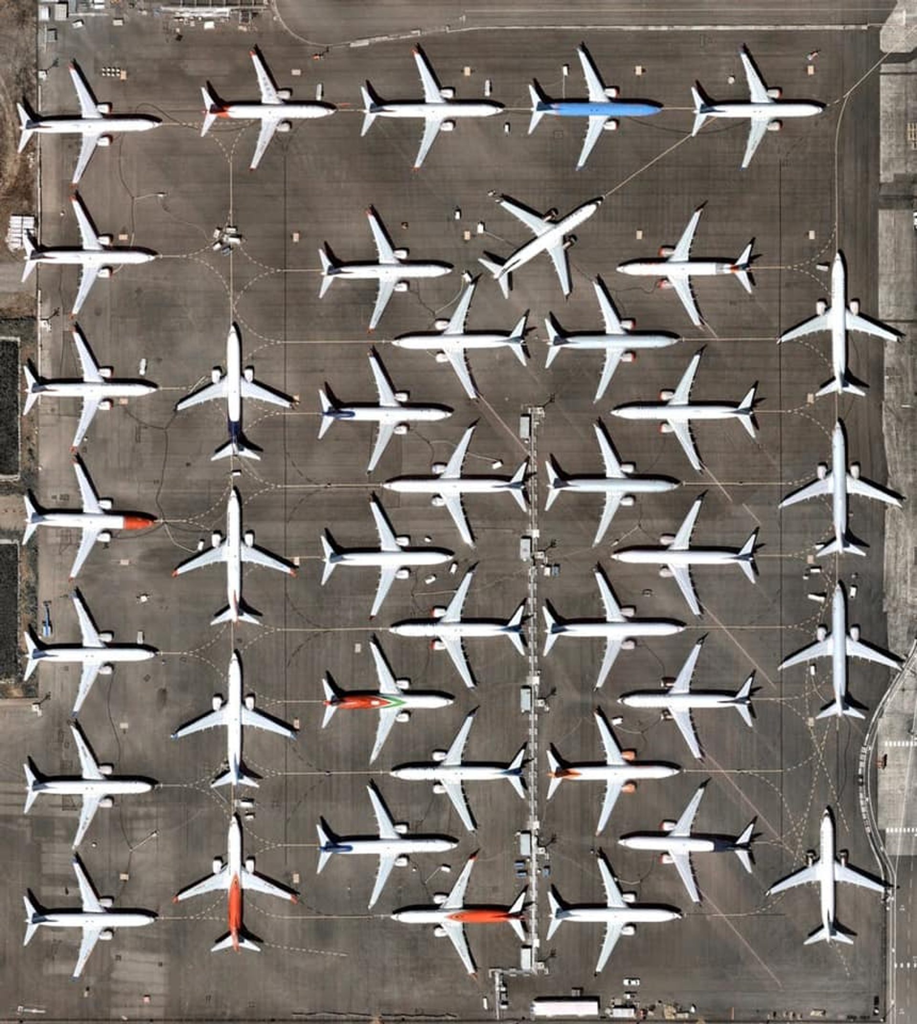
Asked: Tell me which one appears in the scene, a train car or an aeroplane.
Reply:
aeroplane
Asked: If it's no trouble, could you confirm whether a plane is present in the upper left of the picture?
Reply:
Yes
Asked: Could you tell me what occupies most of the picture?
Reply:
paved ground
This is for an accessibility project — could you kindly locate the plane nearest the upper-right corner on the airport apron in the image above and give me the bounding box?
[691,49,825,172]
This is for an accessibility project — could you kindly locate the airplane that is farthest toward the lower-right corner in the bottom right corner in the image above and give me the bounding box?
[767,809,890,943]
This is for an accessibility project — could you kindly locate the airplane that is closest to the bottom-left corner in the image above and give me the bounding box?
[22,859,156,982]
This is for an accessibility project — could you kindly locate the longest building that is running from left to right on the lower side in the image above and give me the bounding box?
[530,1002,598,1018]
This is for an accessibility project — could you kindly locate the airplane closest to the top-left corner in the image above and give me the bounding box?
[17,64,161,187]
